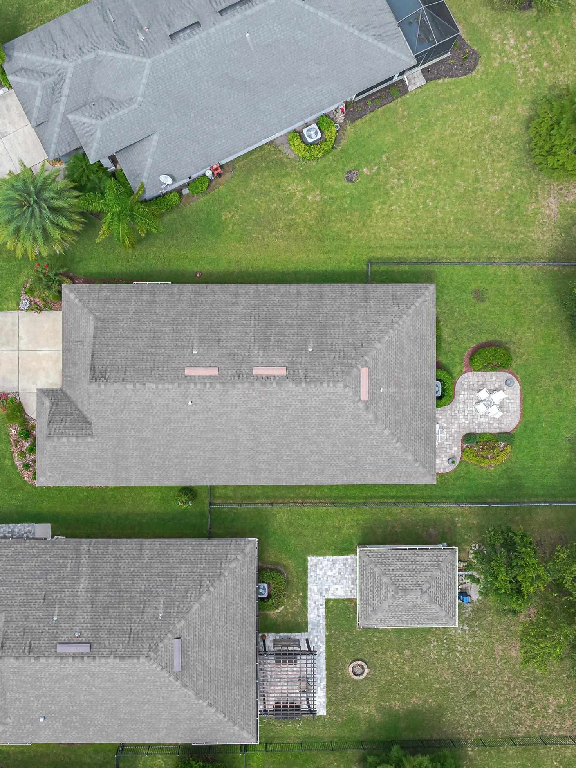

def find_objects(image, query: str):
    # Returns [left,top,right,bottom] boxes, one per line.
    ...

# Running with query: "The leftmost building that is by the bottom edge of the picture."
[0,532,259,746]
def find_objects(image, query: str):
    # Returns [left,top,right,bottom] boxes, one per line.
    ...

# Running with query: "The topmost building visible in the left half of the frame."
[0,0,418,205]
